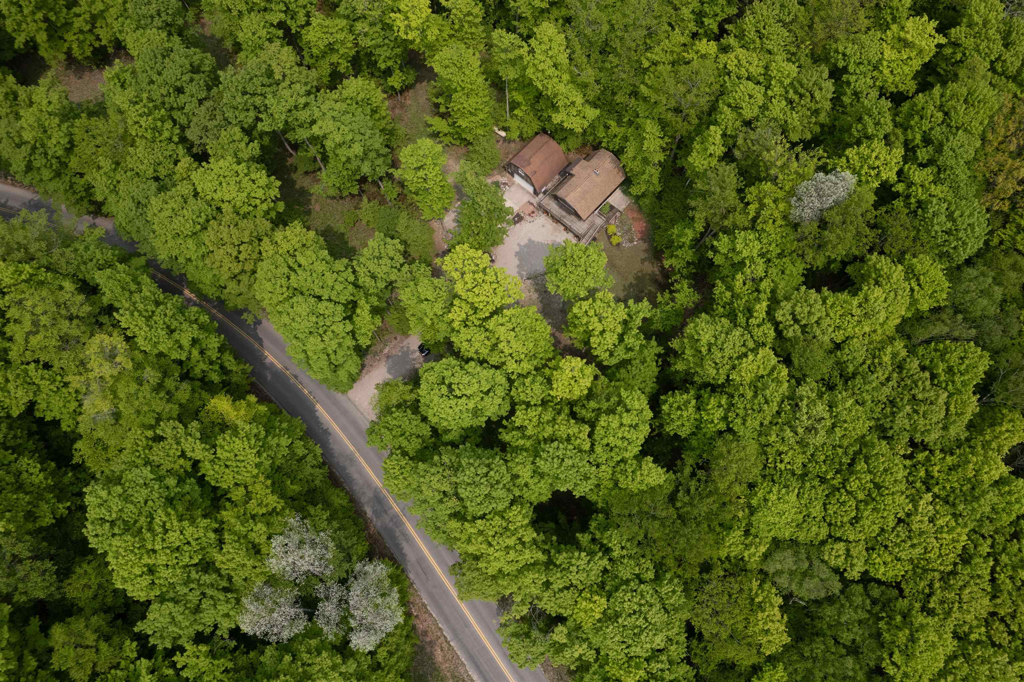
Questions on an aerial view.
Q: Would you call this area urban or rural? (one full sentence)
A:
It looks rural.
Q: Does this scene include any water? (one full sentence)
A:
No, the scene doesn't show any water.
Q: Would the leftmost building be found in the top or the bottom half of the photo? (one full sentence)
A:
The leftmost building is in the top half of the image.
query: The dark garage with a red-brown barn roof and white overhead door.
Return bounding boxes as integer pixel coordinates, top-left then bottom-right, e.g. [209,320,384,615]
[505,132,569,198]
